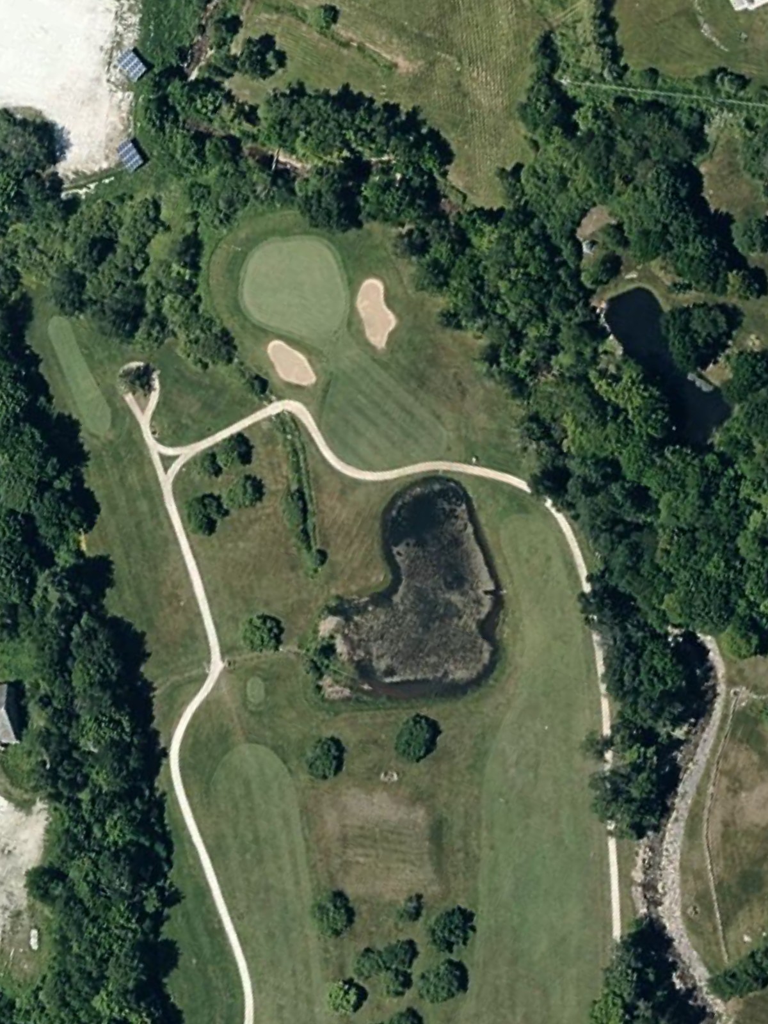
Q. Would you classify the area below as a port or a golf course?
golf course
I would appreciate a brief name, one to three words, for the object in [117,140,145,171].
solar array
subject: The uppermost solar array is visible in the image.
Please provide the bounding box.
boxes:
[118,48,149,81]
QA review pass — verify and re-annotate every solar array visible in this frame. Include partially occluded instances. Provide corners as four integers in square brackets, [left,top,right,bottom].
[117,140,145,171]
[118,48,149,81]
